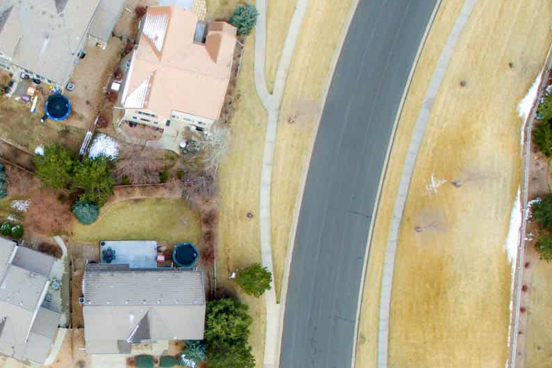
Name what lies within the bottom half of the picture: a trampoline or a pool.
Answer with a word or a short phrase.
trampoline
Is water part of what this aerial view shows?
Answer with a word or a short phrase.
No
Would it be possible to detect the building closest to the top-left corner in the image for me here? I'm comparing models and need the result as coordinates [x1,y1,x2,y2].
[0,0,124,94]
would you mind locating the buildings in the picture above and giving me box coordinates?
[0,0,124,94]
[124,2,238,127]
[0,236,63,366]
[83,263,206,356]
